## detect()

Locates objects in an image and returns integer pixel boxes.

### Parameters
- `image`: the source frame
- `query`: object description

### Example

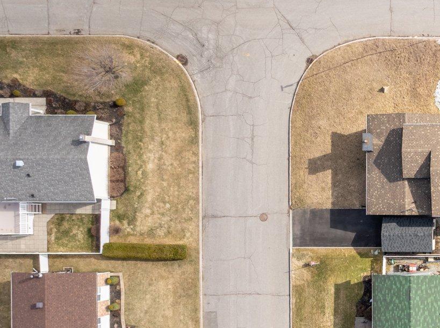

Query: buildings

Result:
[372,275,440,328]
[0,101,114,201]
[361,113,440,217]
[380,218,436,253]
[11,273,112,328]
